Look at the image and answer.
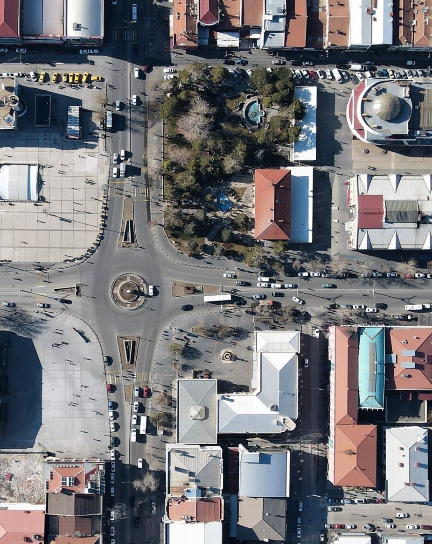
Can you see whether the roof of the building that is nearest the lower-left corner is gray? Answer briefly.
No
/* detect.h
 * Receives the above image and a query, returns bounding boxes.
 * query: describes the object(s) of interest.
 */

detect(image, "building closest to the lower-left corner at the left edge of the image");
[0,501,46,544]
